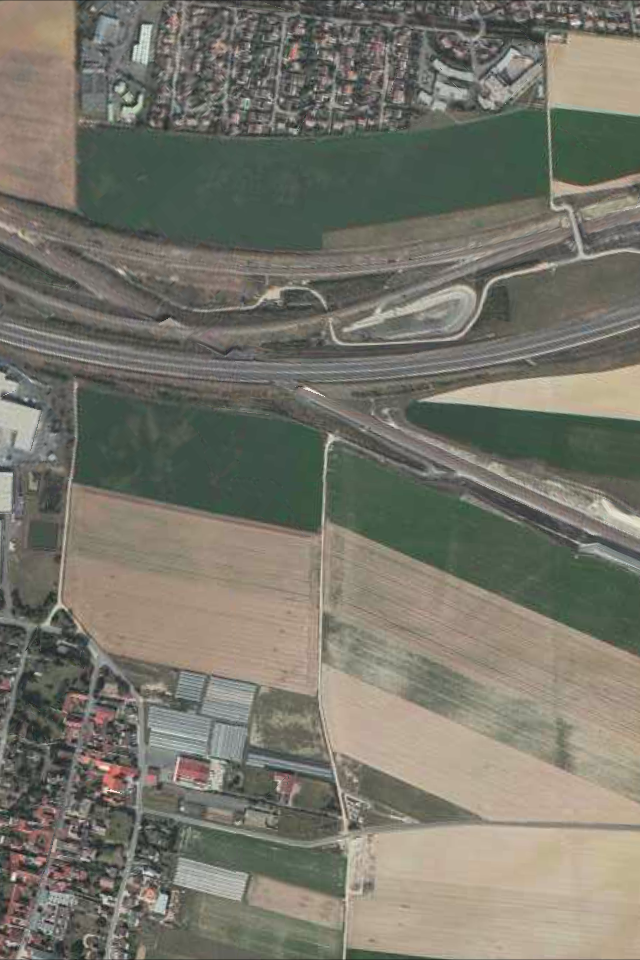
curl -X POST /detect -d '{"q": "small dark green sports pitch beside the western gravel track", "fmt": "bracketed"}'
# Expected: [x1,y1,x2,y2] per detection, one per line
[30,522,58,550]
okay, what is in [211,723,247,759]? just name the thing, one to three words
greenhouse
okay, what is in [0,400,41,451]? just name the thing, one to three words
building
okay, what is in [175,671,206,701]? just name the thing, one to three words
greenhouse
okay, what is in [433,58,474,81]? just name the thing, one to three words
building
